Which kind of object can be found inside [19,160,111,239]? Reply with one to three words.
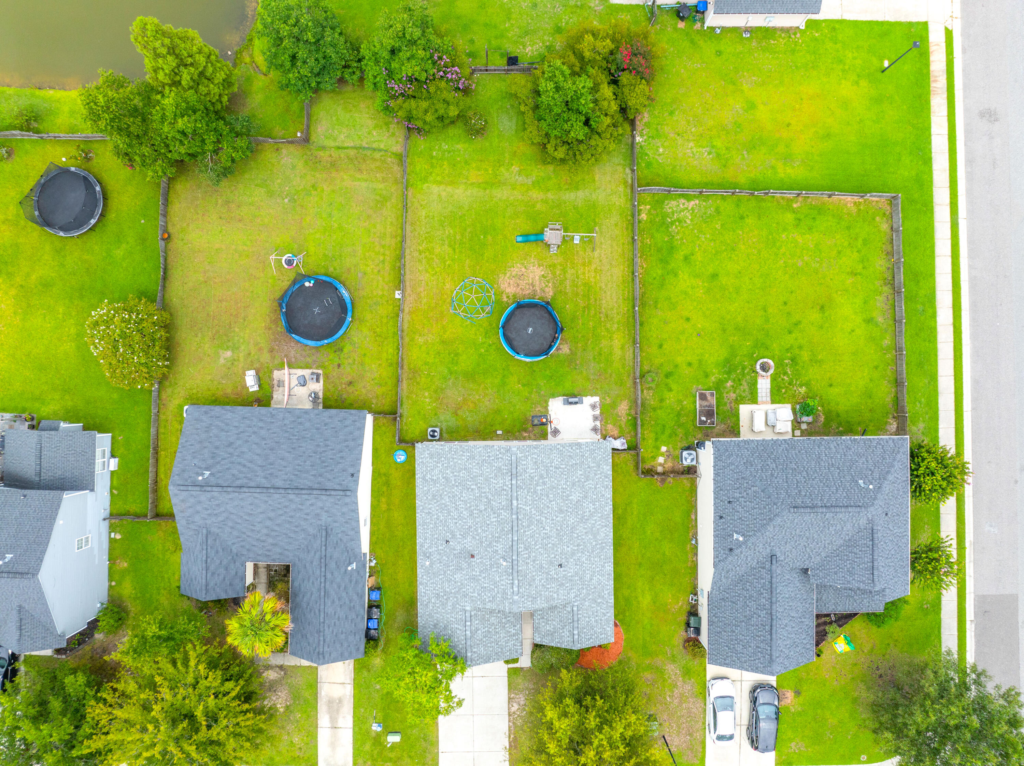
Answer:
trampoline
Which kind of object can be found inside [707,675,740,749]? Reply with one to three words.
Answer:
car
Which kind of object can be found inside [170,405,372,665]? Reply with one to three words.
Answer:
house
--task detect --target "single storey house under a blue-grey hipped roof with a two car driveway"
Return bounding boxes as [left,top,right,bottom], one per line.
[696,434,911,677]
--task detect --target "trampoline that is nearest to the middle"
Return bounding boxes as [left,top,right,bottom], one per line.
[496,297,566,362]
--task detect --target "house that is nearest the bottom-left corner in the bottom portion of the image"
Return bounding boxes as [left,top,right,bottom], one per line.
[0,420,112,657]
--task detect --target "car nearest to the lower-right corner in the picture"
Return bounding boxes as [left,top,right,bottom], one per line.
[745,680,783,753]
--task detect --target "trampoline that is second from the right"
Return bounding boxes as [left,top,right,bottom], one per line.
[273,273,356,348]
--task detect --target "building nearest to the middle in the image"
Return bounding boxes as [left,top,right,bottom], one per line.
[415,439,614,665]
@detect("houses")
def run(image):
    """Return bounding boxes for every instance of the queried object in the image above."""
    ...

[0,420,112,657]
[696,434,911,677]
[170,405,372,665]
[415,439,614,665]
[660,0,833,35]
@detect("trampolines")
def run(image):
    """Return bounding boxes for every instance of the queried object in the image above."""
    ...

[496,297,566,362]
[19,160,111,239]
[273,273,356,348]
